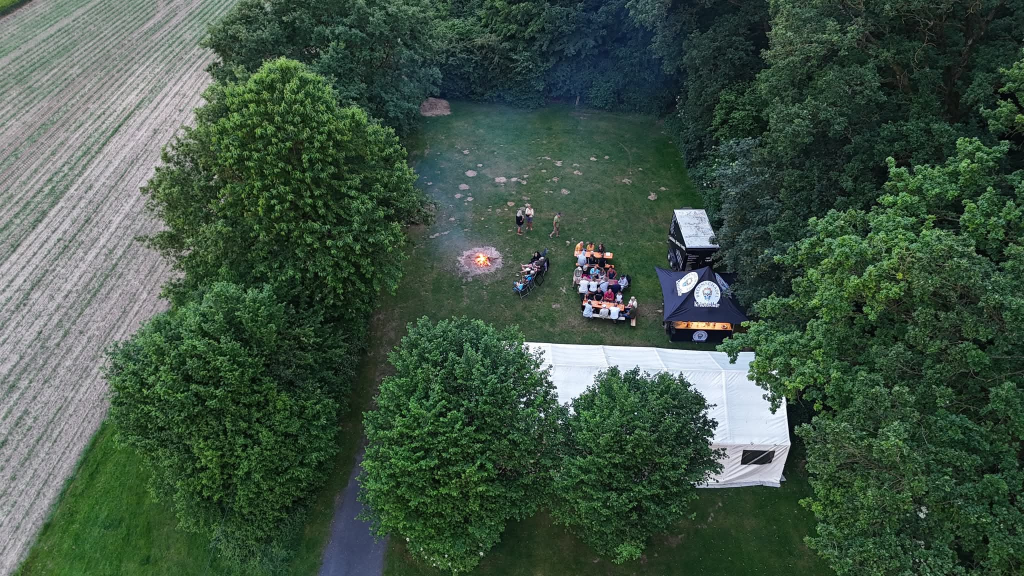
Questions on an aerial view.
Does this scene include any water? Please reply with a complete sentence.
No, water can't be seen anywhere here.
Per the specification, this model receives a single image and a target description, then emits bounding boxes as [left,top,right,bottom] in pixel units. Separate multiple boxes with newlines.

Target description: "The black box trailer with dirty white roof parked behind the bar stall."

[669,211,720,273]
